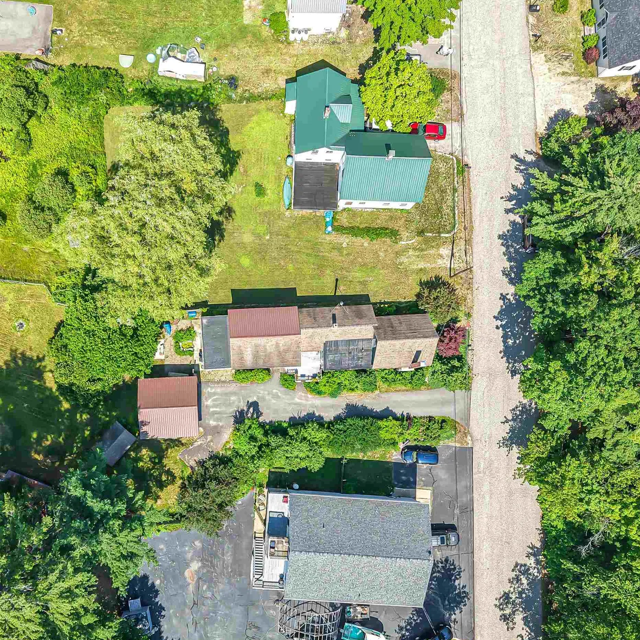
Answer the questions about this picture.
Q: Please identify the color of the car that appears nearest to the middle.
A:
blue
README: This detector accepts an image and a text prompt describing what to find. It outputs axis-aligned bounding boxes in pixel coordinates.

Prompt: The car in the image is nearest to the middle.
[403,449,441,469]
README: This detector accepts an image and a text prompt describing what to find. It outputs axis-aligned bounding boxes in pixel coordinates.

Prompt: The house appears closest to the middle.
[201,305,439,372]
